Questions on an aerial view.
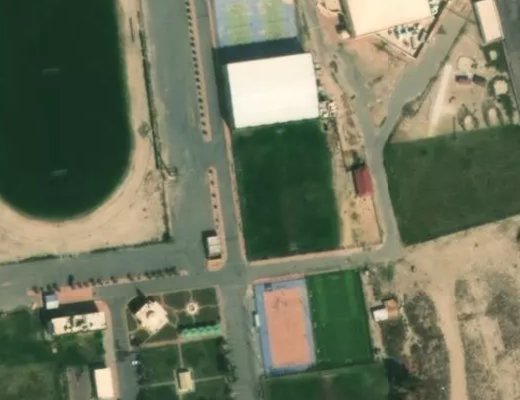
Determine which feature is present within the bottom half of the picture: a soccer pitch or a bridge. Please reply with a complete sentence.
Visible within the bottom half of the picture is a soccer pitch.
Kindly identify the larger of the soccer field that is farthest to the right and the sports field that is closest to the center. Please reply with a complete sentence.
Compared with the soccer field, the sports field is the larger one.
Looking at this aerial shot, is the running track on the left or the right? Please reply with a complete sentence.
It is on the left.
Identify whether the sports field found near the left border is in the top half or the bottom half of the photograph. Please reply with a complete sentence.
The sports field found near the left border is in the top half of the image.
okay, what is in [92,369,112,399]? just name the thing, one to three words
building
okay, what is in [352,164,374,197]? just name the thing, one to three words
shed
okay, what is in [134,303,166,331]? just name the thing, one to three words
building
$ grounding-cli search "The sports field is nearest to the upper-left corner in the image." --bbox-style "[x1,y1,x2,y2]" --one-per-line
[0,0,131,221]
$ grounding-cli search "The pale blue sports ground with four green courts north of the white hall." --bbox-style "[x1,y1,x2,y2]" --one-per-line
[215,0,298,46]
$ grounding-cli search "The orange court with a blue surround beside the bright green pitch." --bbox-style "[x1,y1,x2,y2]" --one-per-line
[256,278,316,376]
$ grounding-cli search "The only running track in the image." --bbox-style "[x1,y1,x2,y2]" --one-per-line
[0,0,152,243]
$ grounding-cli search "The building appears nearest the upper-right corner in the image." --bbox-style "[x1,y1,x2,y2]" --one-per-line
[473,0,503,42]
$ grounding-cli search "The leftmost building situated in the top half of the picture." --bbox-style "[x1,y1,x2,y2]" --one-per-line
[223,52,320,128]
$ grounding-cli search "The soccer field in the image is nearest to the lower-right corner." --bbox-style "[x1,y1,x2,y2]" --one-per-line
[306,269,372,370]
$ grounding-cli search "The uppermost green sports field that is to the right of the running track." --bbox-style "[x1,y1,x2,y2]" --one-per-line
[232,116,341,258]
